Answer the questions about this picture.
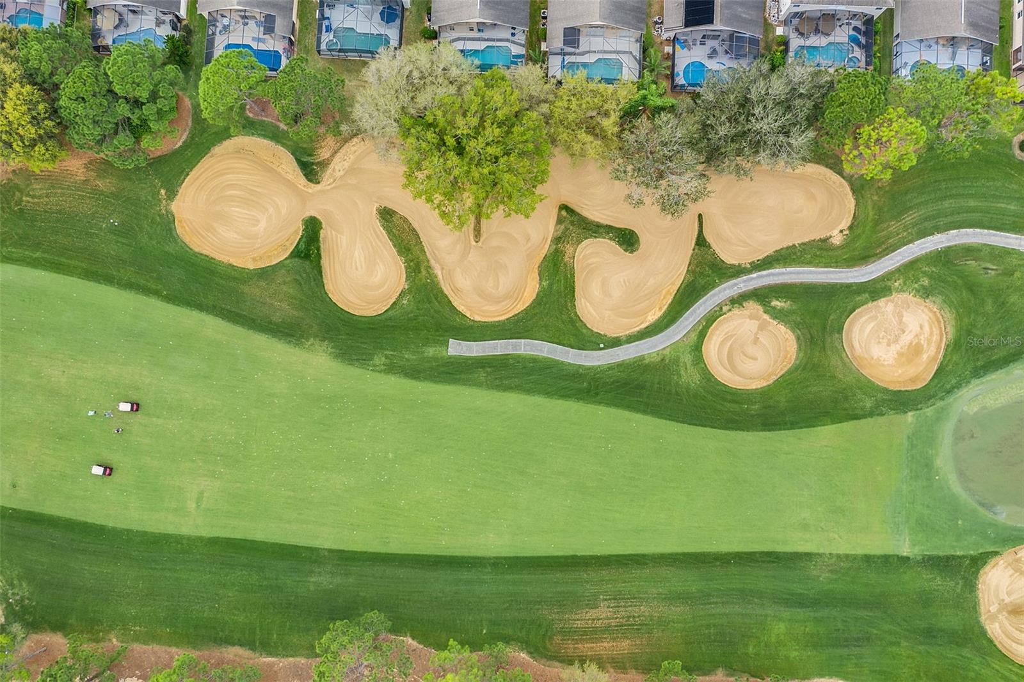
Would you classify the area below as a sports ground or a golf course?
golf course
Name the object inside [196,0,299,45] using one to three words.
house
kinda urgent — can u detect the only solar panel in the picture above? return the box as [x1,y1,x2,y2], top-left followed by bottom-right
[685,0,716,29]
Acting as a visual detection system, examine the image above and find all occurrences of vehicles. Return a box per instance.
[89,465,115,476]
[116,402,141,412]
